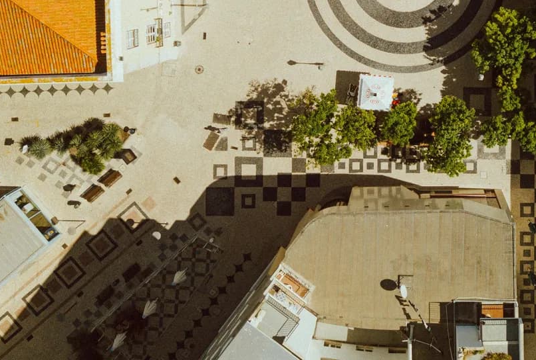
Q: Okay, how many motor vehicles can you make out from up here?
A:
0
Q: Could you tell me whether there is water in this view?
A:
No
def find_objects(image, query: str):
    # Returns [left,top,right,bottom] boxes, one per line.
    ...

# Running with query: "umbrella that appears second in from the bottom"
[145,295,162,316]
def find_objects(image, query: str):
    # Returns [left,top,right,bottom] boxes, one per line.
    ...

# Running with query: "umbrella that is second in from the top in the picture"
[174,266,189,285]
